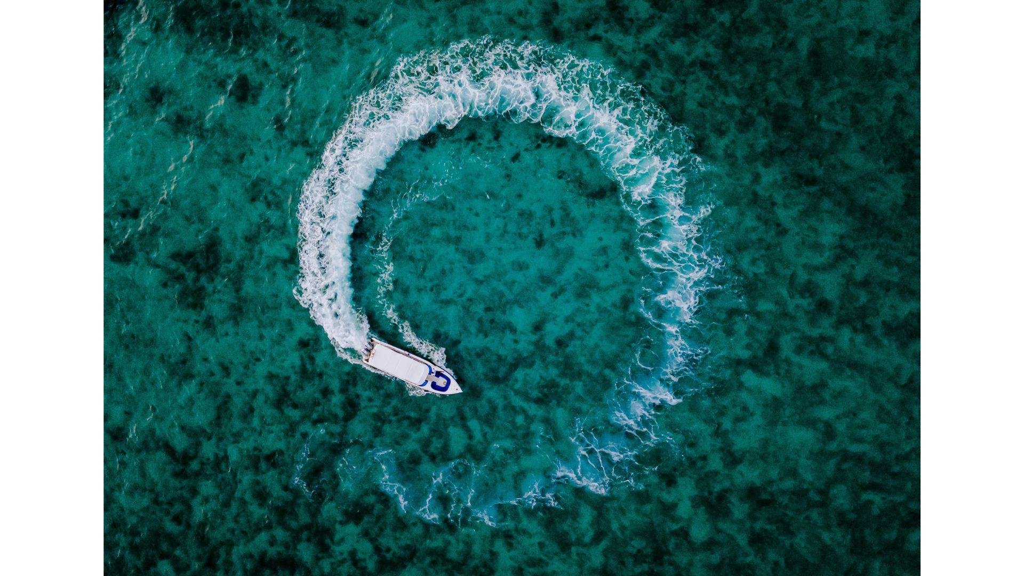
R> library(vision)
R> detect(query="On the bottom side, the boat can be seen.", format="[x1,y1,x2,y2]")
[361,337,463,394]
